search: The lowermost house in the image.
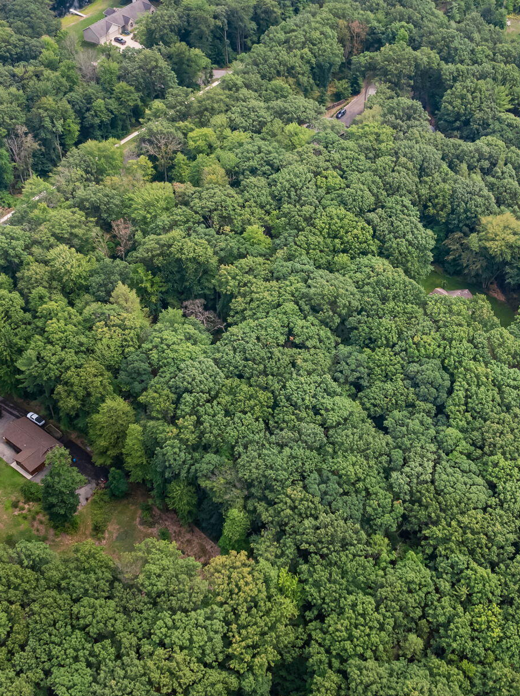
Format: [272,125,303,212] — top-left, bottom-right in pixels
[1,418,63,481]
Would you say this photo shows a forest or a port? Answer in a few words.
forest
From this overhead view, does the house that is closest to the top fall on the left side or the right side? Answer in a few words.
left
